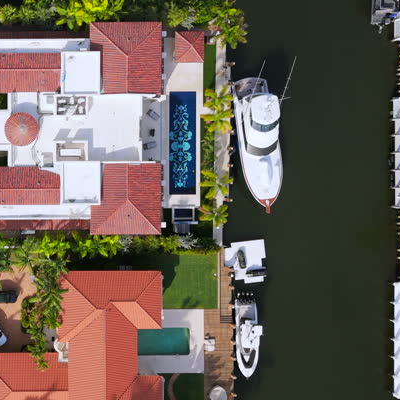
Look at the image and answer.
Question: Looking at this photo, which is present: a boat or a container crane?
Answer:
boat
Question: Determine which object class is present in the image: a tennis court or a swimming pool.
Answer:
swimming pool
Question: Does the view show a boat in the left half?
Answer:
No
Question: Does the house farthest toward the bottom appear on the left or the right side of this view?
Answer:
left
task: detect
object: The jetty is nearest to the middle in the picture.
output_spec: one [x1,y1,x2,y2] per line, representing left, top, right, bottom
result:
[228,240,265,284]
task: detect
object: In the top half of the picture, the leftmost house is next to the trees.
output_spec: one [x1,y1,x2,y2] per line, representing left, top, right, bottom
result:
[0,22,167,235]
